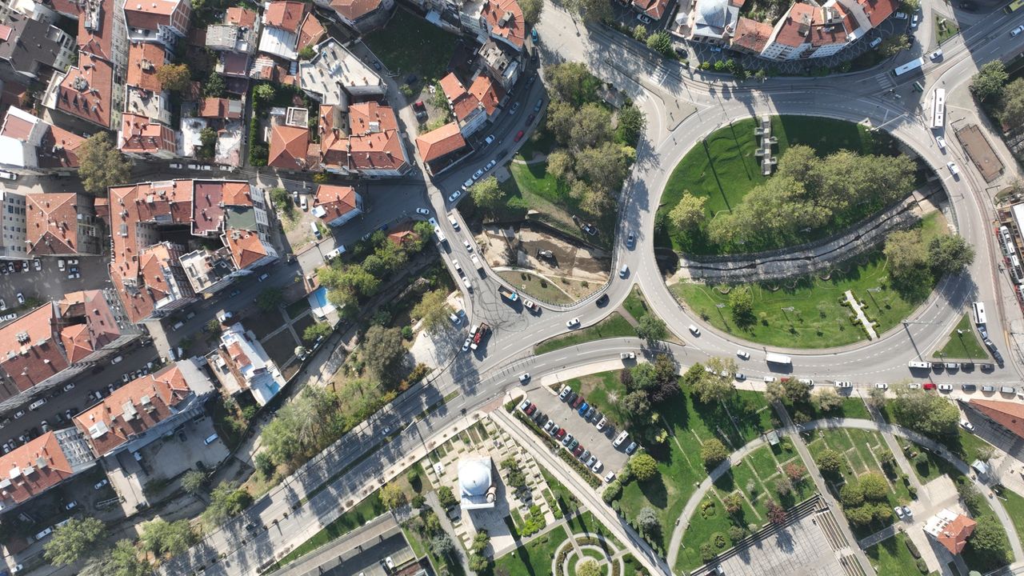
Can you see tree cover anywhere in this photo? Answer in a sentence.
Yes, there's tree cover in this view.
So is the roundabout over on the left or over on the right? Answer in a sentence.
It is on the right.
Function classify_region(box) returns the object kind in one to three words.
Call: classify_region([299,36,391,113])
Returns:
building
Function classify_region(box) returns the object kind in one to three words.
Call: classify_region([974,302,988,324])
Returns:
vehicle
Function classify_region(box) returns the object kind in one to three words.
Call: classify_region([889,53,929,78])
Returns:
bus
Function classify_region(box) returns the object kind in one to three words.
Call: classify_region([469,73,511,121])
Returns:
house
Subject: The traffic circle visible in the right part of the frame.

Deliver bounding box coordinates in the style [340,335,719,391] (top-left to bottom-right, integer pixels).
[620,80,989,388]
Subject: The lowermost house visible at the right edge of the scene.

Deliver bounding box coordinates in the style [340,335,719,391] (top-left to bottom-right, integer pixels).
[915,504,976,555]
